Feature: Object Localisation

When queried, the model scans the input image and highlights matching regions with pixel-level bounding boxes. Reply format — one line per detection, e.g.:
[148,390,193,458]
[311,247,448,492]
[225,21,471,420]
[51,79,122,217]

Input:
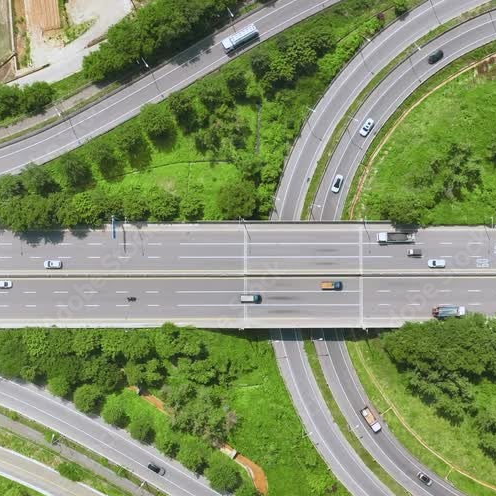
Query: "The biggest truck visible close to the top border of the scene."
[222,23,257,50]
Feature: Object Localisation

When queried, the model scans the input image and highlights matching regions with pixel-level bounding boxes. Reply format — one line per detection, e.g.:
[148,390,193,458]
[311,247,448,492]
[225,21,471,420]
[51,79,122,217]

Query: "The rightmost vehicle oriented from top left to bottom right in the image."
[417,473,433,486]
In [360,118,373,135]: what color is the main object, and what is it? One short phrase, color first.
white vehicle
